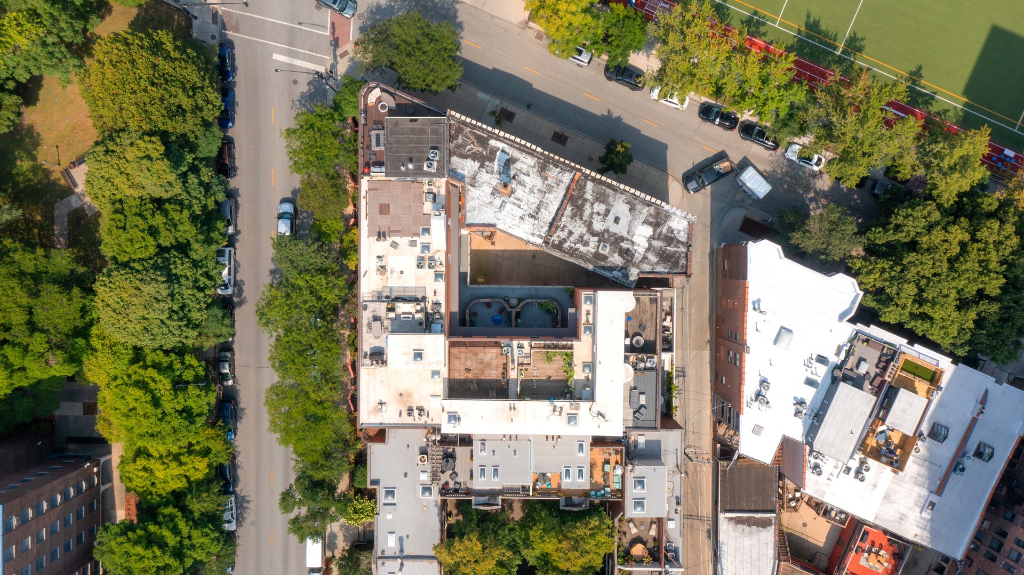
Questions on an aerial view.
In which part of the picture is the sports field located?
top right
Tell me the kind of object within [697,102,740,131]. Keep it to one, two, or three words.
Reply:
car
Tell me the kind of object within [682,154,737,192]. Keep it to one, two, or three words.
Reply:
truck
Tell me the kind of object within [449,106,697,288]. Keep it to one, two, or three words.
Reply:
building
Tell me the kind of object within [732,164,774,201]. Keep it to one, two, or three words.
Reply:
trailer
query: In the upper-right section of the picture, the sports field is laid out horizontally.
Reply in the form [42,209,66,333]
[673,0,1024,157]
